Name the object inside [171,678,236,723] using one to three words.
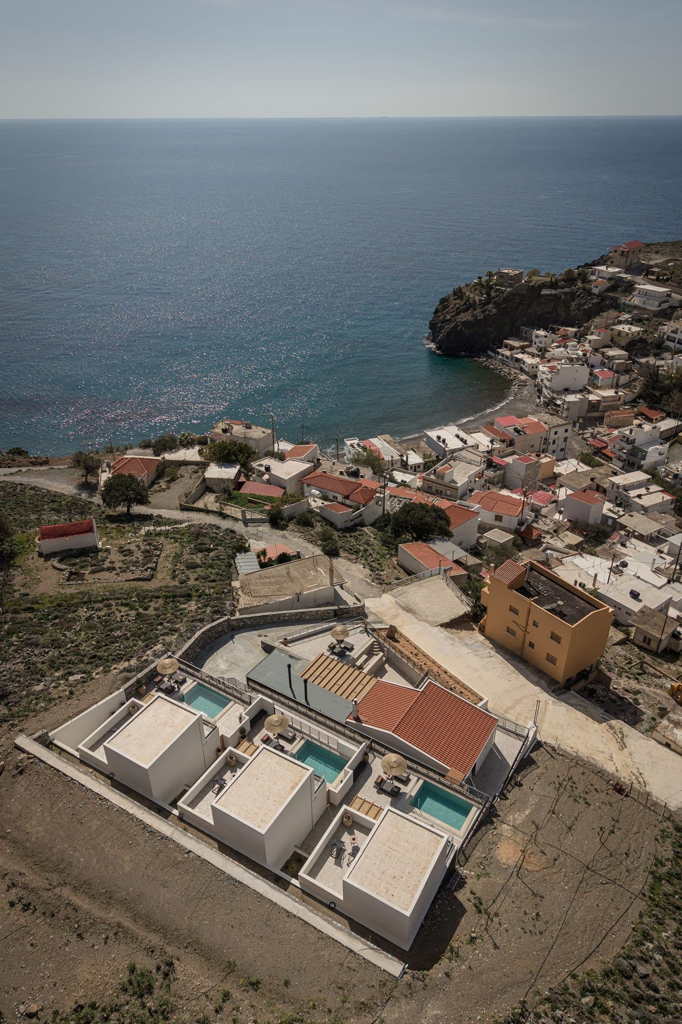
swimming pool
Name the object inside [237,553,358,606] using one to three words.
building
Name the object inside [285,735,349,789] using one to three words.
swimming pool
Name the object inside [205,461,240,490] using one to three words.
house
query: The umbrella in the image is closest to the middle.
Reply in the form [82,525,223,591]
[329,627,349,647]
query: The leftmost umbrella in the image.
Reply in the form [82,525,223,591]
[154,658,178,682]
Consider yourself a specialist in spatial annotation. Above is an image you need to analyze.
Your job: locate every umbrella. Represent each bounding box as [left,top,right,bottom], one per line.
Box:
[154,658,178,682]
[378,754,405,783]
[329,627,349,647]
[264,713,290,740]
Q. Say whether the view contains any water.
Yes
